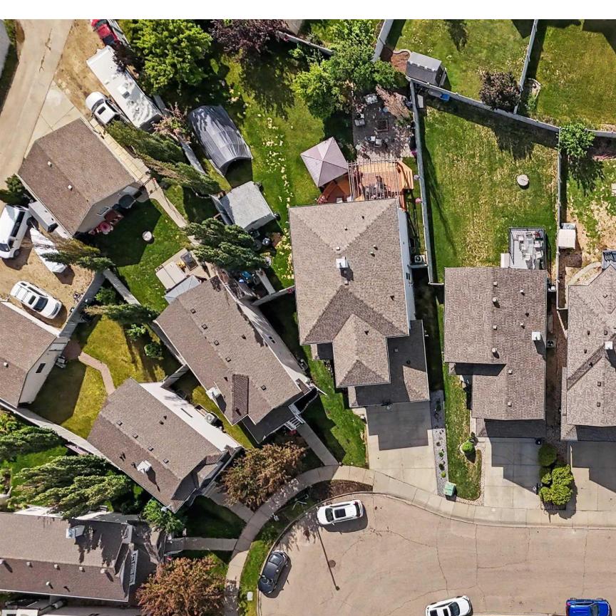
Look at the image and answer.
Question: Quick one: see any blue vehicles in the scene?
Yes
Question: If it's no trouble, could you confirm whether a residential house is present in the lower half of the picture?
Yes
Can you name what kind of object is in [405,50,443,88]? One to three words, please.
shed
